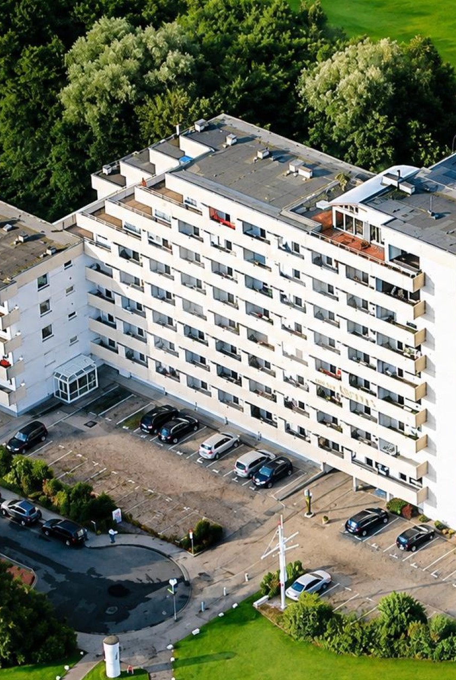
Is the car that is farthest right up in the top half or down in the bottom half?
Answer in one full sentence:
The car that is farthest right sits in the bottom half of the picture.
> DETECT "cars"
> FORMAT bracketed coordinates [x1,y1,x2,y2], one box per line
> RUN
[5,419,49,450]
[0,499,42,527]
[250,456,291,487]
[345,504,388,535]
[229,449,272,478]
[195,431,238,459]
[153,415,197,443]
[136,405,180,432]
[287,566,332,596]
[390,525,431,553]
